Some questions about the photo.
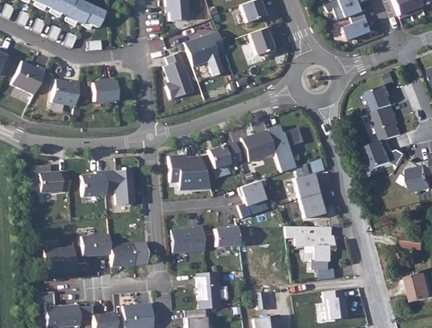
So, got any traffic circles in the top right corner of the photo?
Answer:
Yes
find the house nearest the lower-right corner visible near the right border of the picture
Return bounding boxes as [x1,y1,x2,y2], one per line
[402,272,432,302]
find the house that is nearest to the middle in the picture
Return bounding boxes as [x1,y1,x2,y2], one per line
[209,142,242,178]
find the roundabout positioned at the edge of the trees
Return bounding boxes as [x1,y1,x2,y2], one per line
[286,48,346,112]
